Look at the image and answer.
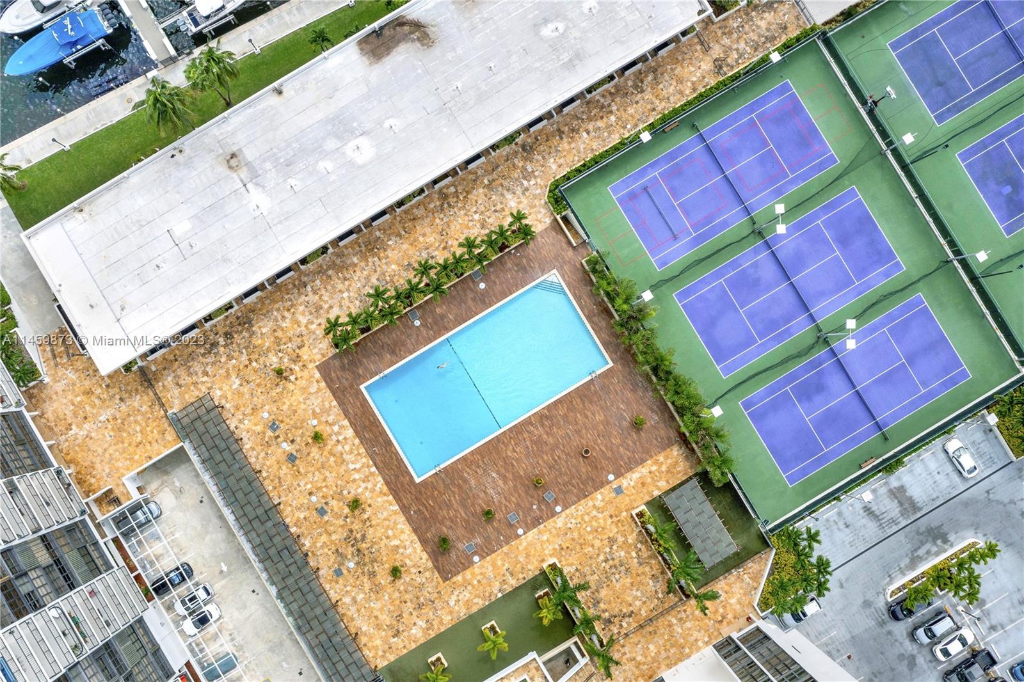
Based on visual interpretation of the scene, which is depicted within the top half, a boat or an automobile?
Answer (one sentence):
What appears within the top half is a boat.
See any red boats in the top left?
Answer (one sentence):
No, I can find no red boat in the top left.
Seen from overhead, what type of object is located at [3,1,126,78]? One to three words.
boat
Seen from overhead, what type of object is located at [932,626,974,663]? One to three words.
car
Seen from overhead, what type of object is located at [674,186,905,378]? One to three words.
tennis court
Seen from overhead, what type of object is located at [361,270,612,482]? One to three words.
swimming pool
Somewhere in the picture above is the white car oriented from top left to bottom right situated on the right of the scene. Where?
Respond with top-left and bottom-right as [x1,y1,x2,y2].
[942,437,977,480]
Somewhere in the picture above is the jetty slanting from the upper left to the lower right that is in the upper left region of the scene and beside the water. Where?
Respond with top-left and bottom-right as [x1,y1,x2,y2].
[126,0,178,65]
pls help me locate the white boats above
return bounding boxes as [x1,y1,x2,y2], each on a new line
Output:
[0,0,82,33]
[178,0,261,41]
